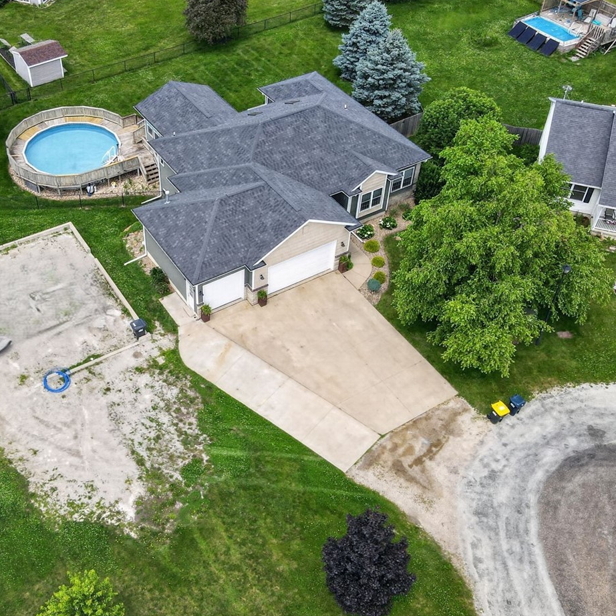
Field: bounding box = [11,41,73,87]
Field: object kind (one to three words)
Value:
shed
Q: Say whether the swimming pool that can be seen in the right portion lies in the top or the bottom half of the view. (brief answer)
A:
top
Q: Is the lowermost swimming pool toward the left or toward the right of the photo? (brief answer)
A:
left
